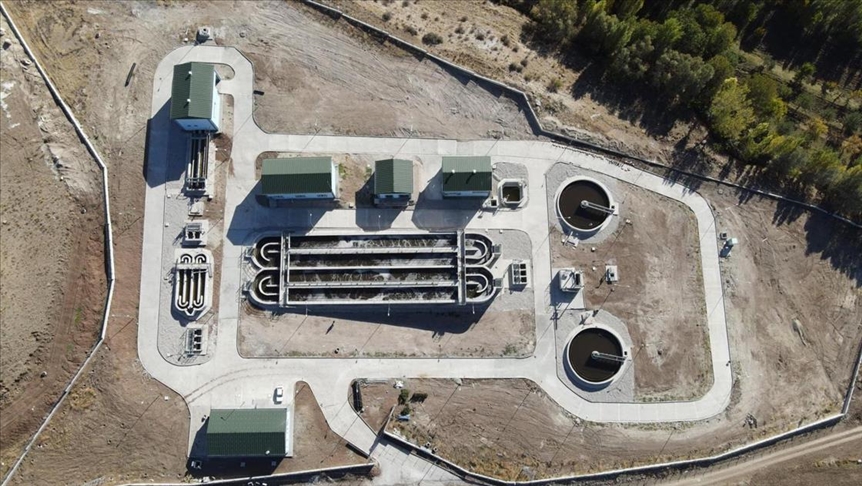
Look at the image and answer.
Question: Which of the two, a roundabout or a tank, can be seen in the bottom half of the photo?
tank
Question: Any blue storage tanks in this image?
No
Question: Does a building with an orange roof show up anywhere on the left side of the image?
No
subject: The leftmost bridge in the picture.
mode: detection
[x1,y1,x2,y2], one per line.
[277,234,292,307]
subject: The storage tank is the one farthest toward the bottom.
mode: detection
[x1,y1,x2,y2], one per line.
[561,323,629,390]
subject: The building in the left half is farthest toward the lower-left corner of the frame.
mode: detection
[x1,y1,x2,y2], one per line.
[203,407,291,459]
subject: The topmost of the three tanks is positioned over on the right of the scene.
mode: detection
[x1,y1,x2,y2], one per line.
[551,179,619,239]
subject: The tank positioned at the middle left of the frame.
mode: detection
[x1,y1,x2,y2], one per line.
[172,248,219,331]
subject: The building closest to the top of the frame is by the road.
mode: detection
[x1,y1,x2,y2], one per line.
[170,59,225,132]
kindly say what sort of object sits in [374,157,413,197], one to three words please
building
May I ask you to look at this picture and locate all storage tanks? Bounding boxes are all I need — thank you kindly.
[172,248,219,331]
[561,323,629,390]
[551,179,619,239]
